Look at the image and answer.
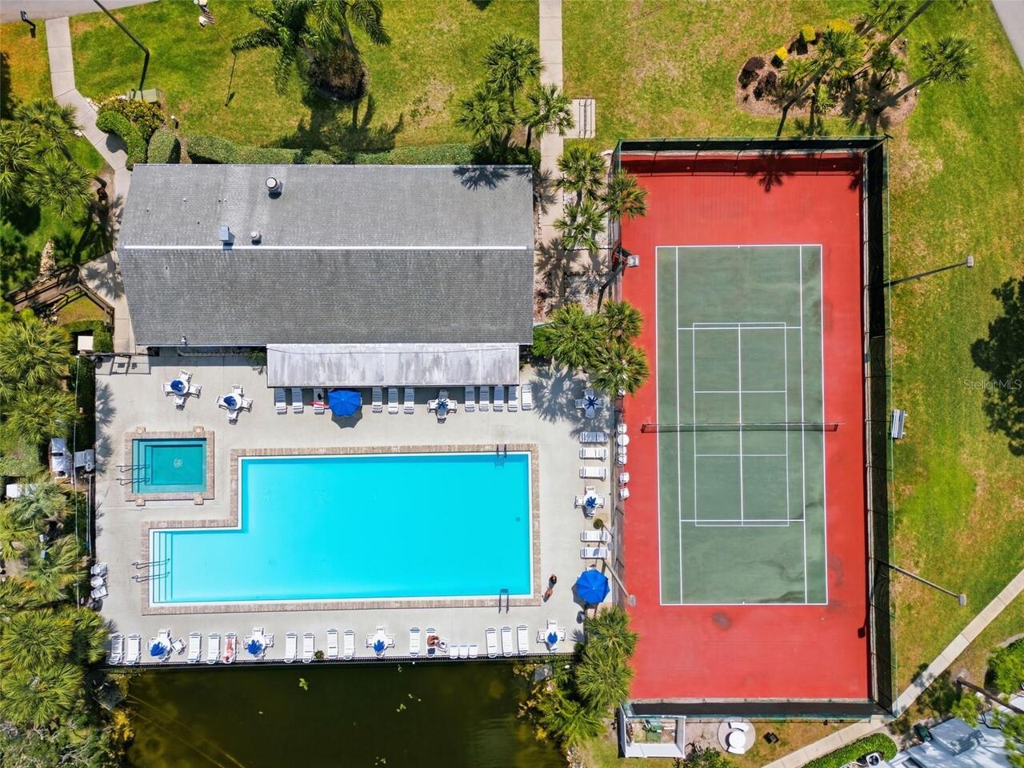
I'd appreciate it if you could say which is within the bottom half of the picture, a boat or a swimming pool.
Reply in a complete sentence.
The feature located within the bottom half of the picture is a swimming pool.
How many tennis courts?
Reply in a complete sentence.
There is 1 tennis court in the image.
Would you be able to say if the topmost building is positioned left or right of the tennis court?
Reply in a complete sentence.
In the image, the topmost building sits on the left side of the tennis court.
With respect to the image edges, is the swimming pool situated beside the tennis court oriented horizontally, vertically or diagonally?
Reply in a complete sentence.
In this picture, the swimming pool situated beside the tennis court is oriented horizontally.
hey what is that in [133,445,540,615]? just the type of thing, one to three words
swimming pool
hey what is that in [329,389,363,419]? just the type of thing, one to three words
umbrella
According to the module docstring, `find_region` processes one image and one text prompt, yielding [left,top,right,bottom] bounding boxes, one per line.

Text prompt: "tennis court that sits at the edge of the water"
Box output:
[614,152,875,704]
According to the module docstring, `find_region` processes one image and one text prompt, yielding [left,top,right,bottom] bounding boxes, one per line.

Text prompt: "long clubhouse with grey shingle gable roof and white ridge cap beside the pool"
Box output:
[118,163,535,347]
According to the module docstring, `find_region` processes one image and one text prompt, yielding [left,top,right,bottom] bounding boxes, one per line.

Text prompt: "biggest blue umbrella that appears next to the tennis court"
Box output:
[574,568,610,605]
